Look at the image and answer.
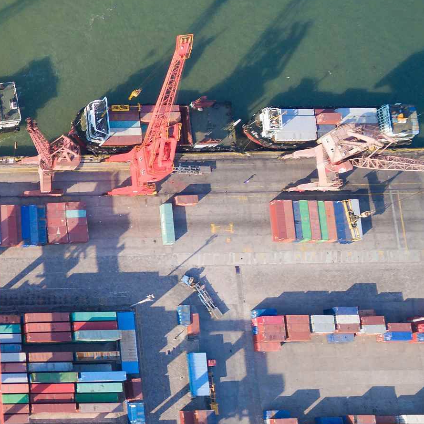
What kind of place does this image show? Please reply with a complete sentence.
This looks like a port.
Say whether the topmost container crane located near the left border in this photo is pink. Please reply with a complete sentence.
Yes, the topmost container crane located near the left border is indeed pink.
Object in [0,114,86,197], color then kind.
pink container crane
